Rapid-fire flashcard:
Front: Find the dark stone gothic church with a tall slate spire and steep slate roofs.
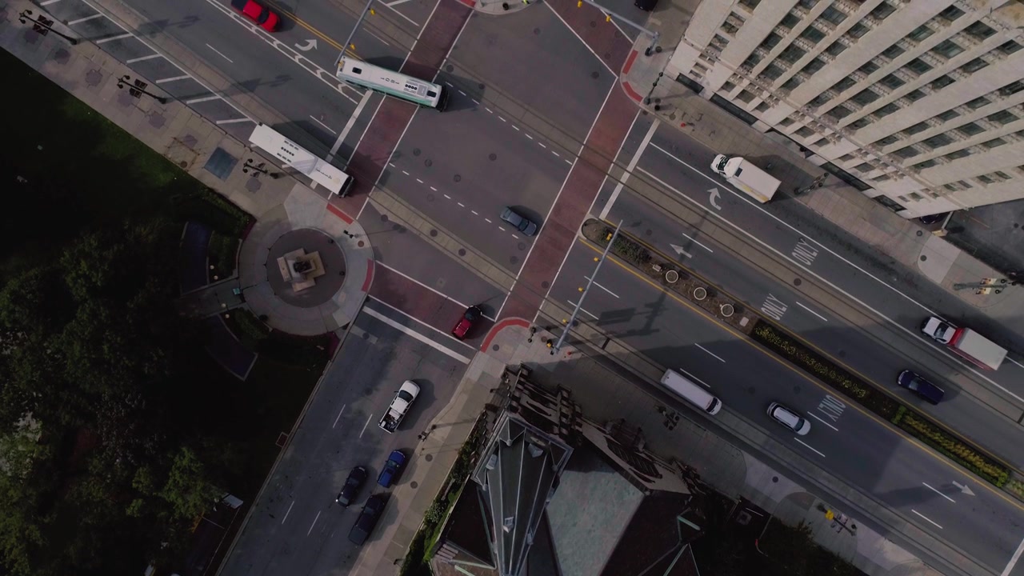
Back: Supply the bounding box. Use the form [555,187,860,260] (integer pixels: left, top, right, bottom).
[410,359,708,576]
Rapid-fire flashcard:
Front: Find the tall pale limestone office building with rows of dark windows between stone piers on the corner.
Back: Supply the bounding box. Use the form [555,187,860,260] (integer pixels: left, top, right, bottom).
[665,0,1024,220]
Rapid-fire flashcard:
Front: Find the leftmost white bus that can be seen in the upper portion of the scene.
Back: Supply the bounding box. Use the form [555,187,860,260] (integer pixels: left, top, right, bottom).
[247,123,352,196]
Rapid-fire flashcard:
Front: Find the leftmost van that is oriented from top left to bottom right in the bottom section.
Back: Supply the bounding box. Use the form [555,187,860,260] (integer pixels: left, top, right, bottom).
[661,369,722,414]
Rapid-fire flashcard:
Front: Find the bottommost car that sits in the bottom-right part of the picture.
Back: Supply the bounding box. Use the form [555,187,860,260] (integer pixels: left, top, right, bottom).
[767,403,812,438]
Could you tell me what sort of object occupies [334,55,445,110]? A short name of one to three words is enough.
bus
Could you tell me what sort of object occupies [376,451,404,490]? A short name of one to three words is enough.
car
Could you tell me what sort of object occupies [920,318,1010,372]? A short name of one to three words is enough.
truck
